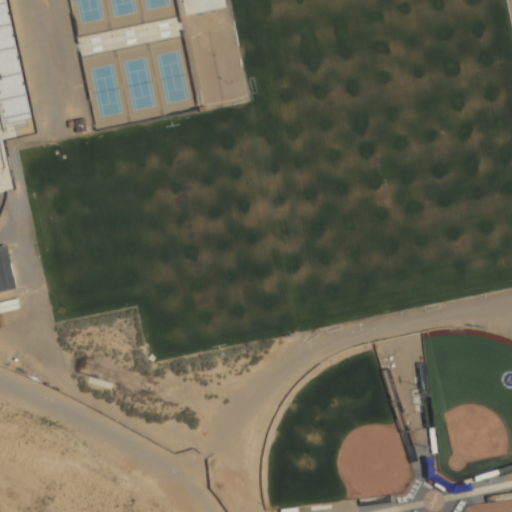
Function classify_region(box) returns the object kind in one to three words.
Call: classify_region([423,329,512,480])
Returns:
baseball field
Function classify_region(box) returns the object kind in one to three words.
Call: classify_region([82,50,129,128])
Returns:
tennis court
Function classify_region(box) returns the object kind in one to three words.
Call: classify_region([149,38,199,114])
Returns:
tennis court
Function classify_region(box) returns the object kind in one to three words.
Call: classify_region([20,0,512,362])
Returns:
sports field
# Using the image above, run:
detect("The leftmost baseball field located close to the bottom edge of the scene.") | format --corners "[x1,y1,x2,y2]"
[268,350,412,506]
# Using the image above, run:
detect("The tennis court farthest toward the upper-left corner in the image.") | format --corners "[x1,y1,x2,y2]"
[70,0,110,38]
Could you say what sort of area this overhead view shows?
sports ground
